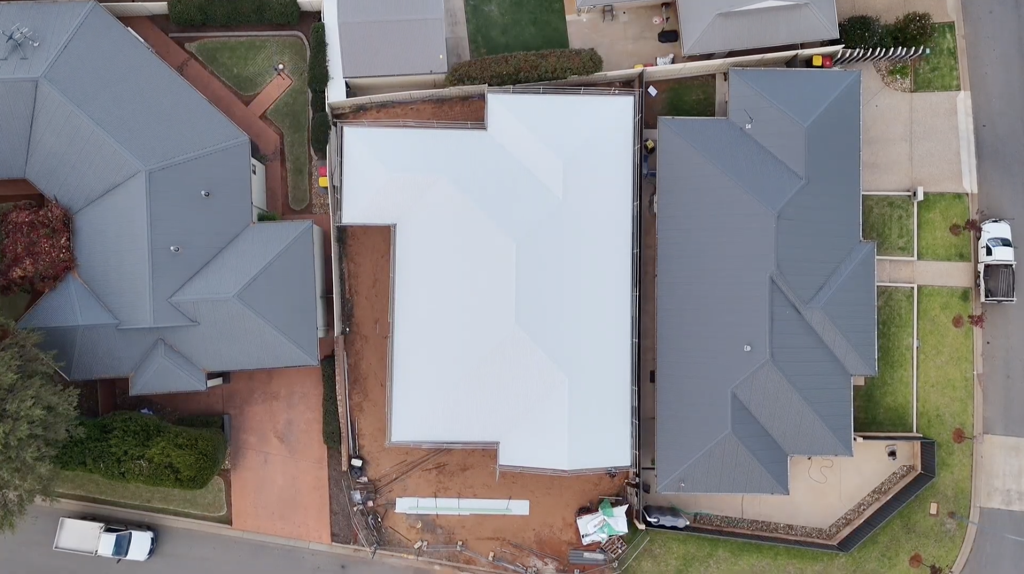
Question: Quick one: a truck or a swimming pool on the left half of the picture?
truck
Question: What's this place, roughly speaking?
residential area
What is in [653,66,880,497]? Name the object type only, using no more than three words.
house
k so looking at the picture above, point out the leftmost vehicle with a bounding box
[49,517,158,566]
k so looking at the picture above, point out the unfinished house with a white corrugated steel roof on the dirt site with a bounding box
[340,91,638,471]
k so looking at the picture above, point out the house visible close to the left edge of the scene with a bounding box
[0,0,332,397]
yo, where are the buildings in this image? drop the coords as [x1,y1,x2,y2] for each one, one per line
[337,0,450,97]
[653,66,880,497]
[0,0,332,397]
[340,91,638,471]
[669,0,841,63]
